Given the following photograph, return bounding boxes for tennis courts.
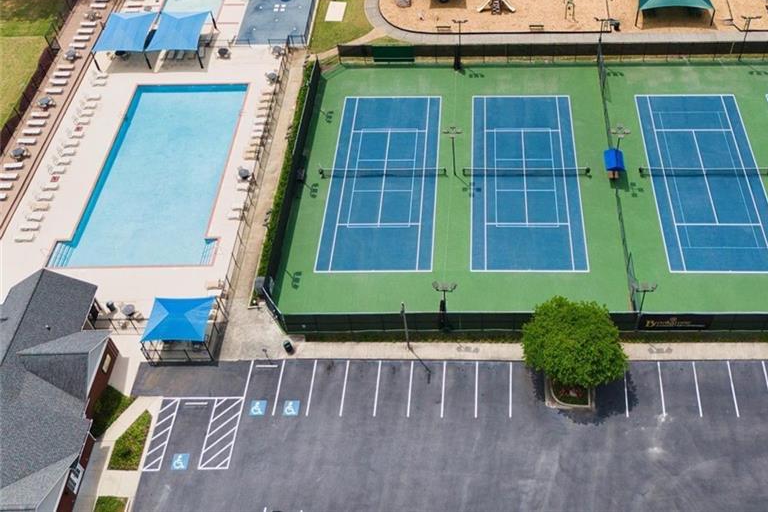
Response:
[470,95,589,272]
[314,96,442,272]
[635,94,768,273]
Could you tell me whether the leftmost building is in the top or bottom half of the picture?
bottom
